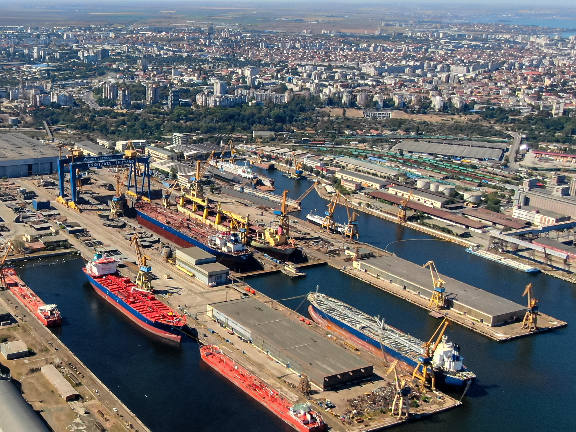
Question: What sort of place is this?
port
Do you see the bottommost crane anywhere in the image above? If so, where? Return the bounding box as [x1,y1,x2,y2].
[377,356,421,425]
